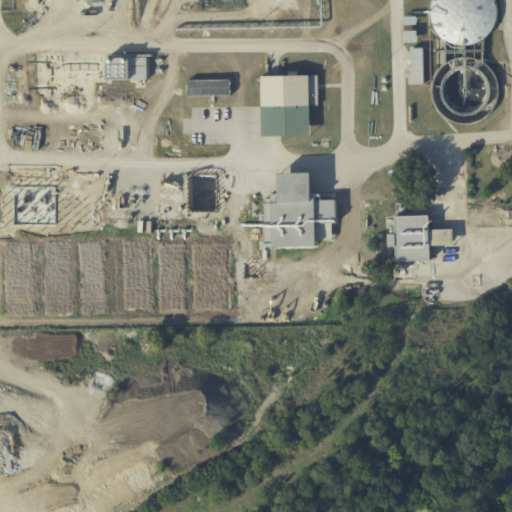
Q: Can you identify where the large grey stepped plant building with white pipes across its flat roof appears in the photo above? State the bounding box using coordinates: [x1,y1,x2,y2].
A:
[262,173,336,248]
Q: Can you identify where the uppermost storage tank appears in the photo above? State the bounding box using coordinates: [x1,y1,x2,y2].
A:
[422,0,498,46]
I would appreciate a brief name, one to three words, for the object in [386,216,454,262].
building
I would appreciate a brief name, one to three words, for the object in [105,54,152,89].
building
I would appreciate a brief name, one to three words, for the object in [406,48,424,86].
shed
